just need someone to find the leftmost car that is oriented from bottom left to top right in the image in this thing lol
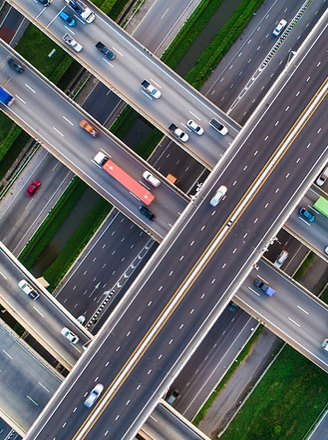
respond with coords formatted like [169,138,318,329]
[25,180,41,199]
